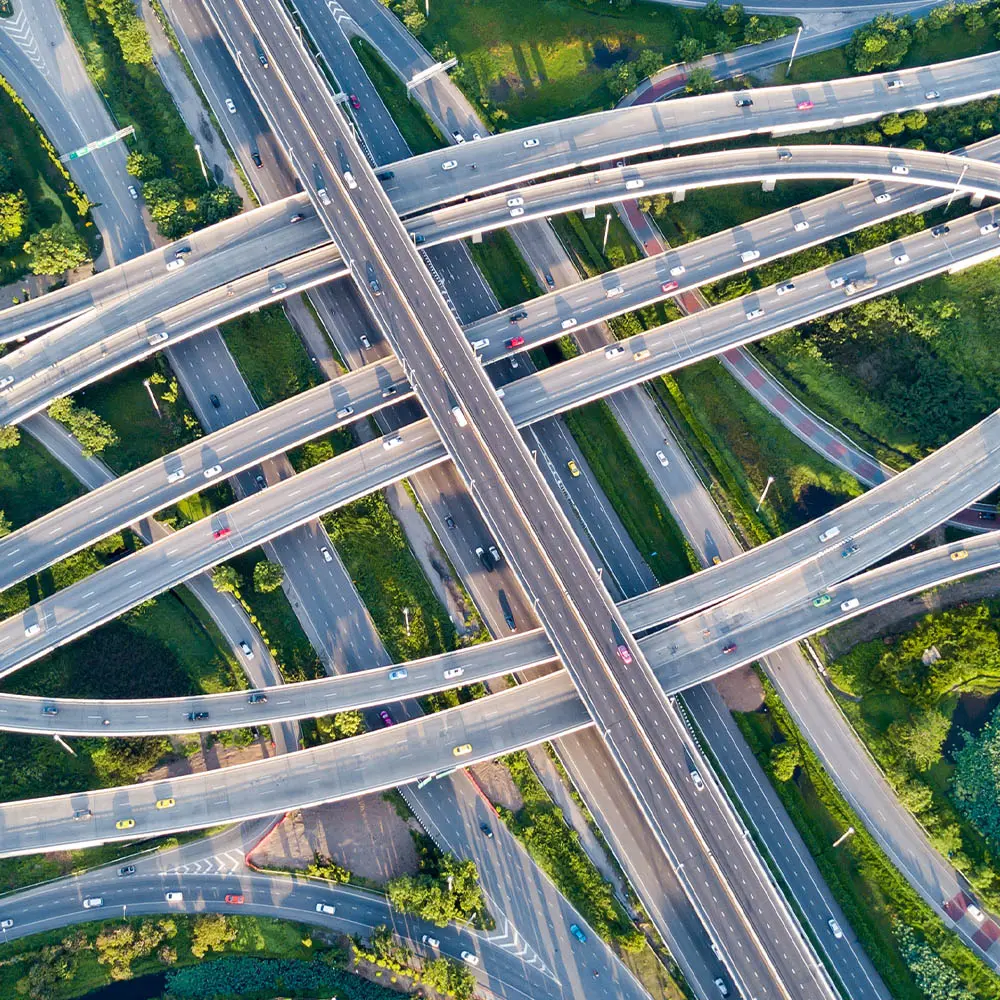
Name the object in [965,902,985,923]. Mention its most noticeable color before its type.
white vehicle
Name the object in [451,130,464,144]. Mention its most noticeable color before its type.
white vehicle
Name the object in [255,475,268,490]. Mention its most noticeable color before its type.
blue vehicle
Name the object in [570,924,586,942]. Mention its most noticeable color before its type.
blue car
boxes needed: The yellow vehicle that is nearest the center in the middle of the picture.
[567,460,580,477]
